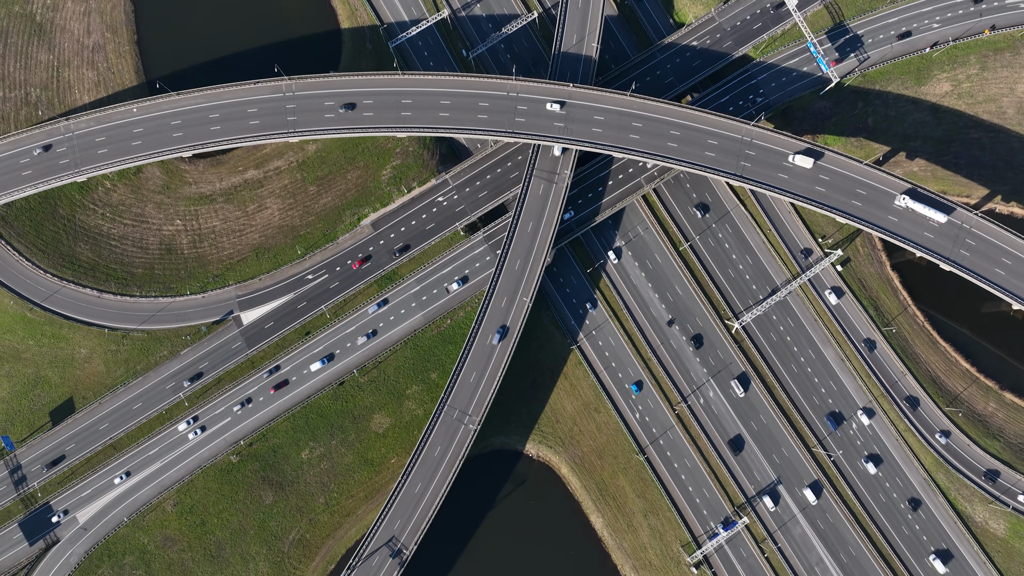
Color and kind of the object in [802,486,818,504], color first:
white vehicle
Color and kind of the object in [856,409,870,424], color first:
white car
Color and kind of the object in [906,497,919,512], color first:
black vehicle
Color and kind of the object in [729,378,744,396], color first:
white vehicle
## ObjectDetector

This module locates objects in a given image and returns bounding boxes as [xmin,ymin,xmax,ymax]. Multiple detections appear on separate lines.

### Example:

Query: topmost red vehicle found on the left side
[353,257,368,269]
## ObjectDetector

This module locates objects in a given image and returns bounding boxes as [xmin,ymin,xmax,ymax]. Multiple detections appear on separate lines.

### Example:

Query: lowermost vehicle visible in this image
[928,555,946,574]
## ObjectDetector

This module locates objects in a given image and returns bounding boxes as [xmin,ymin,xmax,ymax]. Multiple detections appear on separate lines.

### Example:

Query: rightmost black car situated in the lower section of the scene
[981,471,997,485]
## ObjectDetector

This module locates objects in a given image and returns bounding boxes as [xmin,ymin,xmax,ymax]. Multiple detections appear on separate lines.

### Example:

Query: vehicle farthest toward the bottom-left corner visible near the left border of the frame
[49,510,67,524]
